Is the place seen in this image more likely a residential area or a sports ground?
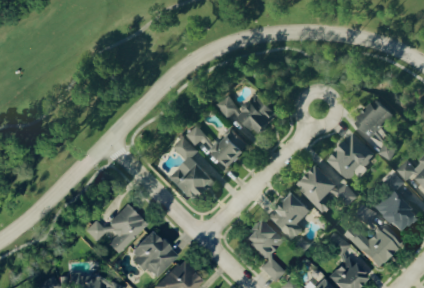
residential area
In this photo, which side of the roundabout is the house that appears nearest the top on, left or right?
left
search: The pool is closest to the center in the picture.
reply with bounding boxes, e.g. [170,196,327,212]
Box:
[204,114,228,138]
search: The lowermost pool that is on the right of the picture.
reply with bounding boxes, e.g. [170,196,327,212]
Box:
[299,270,321,286]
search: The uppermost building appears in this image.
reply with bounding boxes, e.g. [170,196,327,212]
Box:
[216,96,272,128]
